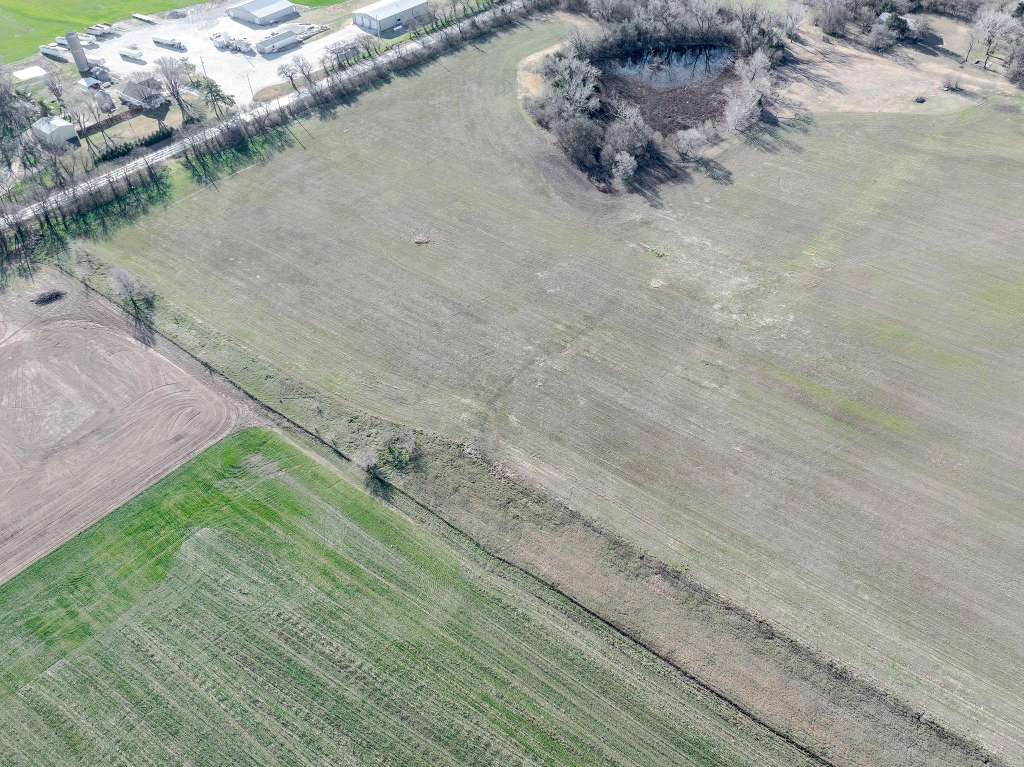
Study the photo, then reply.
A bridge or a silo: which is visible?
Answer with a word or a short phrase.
silo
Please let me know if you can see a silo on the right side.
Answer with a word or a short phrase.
No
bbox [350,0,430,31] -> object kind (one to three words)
shed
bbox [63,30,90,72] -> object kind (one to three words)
silo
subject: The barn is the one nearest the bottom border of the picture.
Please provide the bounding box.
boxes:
[28,112,78,143]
